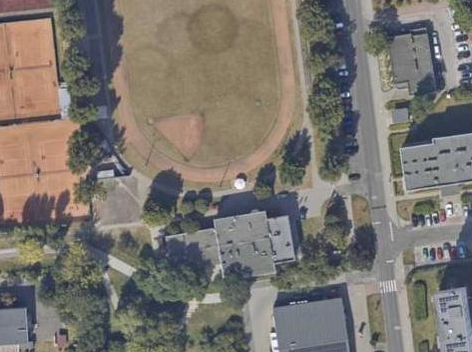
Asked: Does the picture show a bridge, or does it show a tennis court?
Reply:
tennis court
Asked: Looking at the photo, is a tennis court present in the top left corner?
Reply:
Yes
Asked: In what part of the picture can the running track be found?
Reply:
top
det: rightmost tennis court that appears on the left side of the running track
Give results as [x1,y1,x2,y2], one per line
[34,121,88,217]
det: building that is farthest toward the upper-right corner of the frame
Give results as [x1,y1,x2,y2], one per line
[391,28,436,94]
